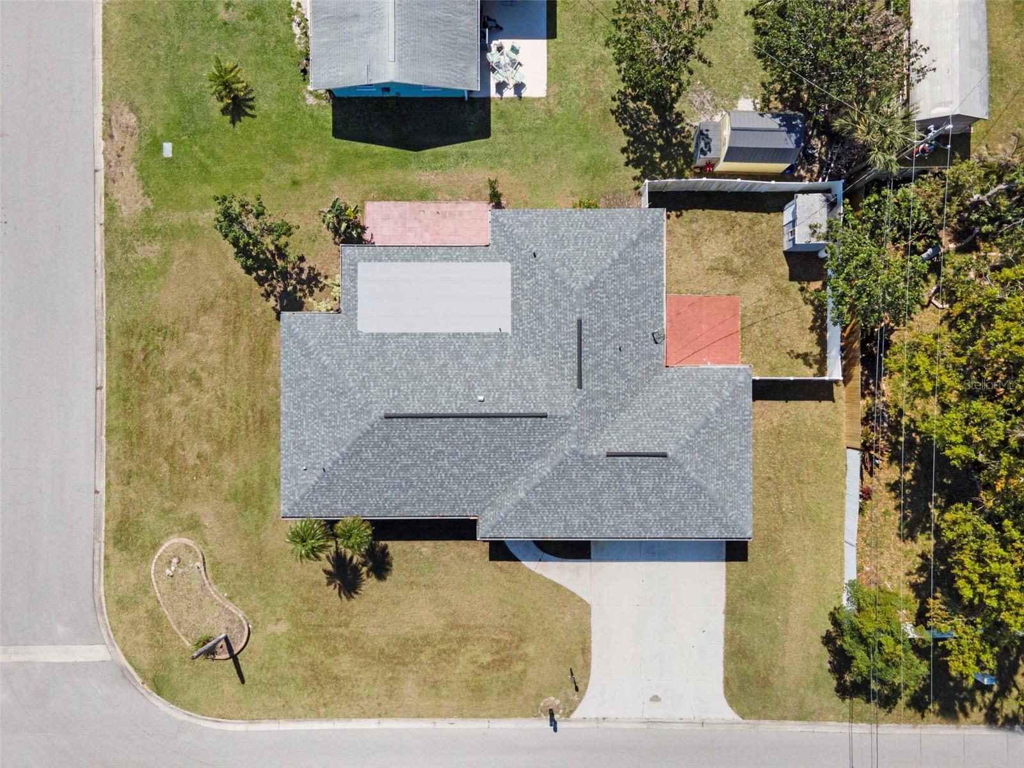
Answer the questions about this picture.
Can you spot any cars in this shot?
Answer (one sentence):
No, there isn't any car down there.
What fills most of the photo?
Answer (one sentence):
The bulk of the photo consists of grass.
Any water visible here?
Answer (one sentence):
No, there is no water in the image.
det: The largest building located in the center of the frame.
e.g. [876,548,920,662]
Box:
[281,208,753,542]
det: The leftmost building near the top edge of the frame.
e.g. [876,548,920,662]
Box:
[308,0,489,98]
